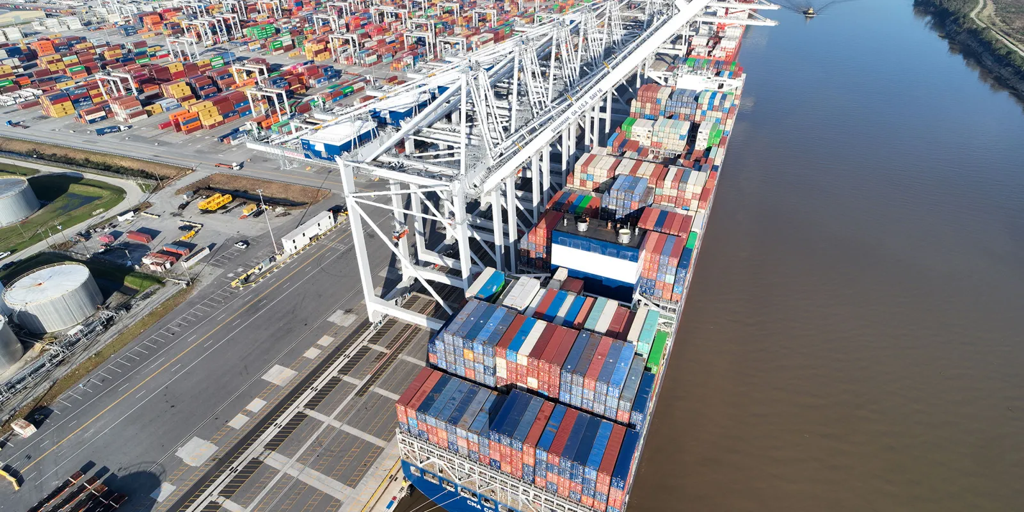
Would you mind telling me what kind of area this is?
port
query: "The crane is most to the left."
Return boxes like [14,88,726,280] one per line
[94,70,146,106]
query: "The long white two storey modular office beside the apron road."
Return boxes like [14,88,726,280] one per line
[279,211,334,253]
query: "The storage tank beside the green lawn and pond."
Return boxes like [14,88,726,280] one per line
[0,174,42,226]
